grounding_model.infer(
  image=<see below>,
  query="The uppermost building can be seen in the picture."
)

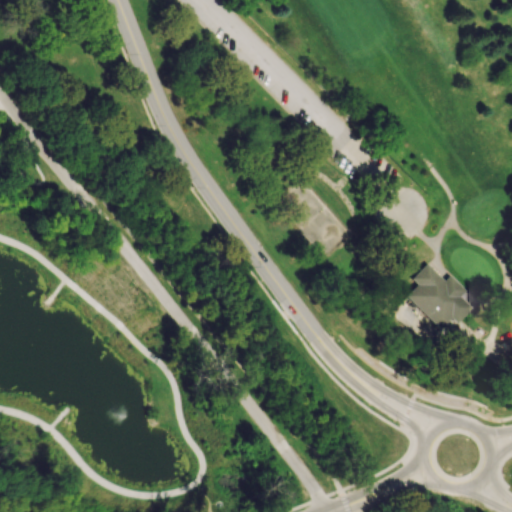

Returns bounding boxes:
[411,264,474,324]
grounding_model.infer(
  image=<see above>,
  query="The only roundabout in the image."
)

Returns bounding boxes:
[350,370,512,512]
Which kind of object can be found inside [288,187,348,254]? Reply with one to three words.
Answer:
sports court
